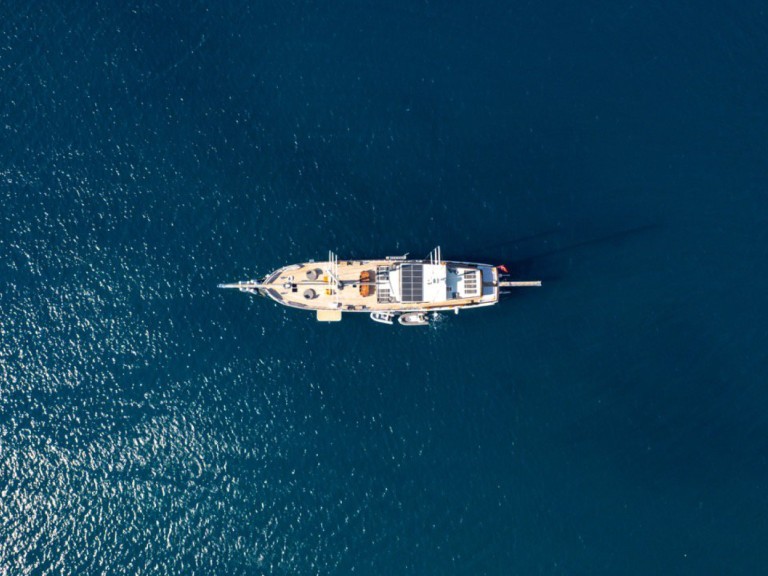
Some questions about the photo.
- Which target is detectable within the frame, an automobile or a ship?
ship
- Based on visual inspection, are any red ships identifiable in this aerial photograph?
No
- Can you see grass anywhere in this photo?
No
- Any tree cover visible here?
No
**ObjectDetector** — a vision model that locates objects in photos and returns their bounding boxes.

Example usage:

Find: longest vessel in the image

[218,249,542,311]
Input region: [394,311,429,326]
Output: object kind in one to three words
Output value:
boat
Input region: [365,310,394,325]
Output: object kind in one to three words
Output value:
boat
